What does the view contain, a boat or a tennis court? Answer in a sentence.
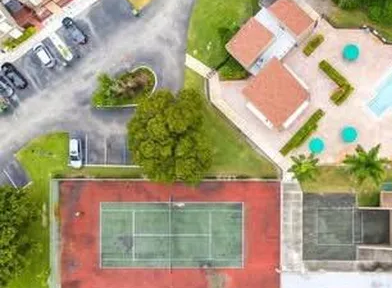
The one in the frame is a tennis court.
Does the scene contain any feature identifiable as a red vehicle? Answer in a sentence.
No, this view has no red vehicle in it.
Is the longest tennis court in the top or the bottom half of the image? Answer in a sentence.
The longest tennis court is in the bottom half of the image.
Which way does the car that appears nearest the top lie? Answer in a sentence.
The car that appears nearest the top has been laid out at an angle relative to the frame.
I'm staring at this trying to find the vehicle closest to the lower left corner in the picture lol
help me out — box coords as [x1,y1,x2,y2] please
[68,138,84,168]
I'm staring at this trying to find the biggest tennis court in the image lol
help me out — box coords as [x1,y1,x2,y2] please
[99,198,244,273]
